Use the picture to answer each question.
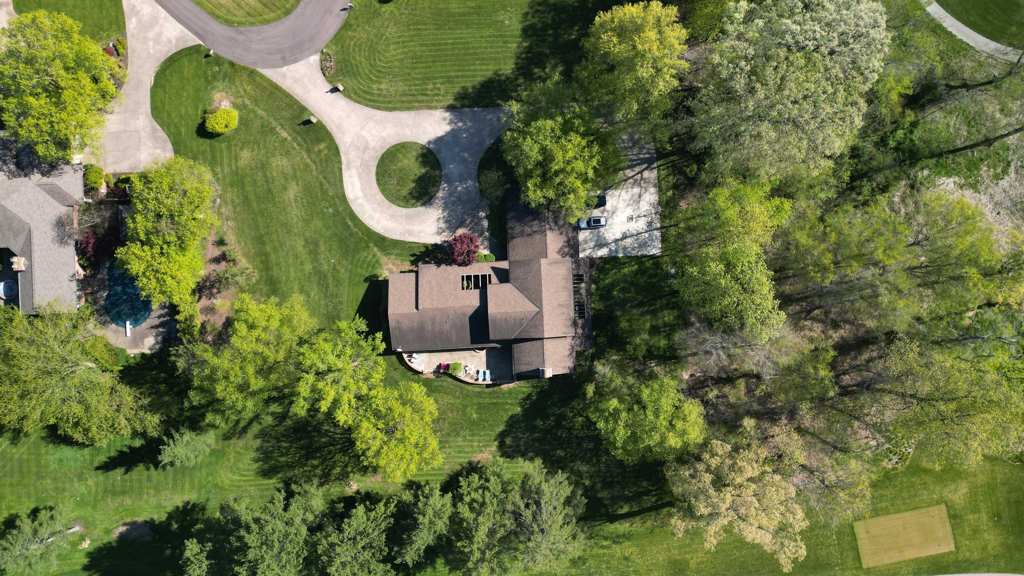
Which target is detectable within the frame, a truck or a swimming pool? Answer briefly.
swimming pool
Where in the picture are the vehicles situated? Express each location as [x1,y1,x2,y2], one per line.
[578,216,607,230]
[578,196,607,209]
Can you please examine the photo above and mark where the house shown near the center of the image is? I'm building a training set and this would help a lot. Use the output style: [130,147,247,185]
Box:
[388,181,594,379]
